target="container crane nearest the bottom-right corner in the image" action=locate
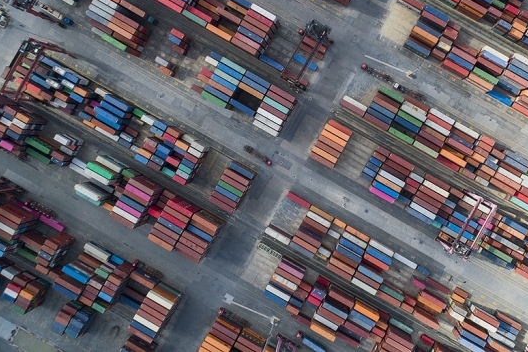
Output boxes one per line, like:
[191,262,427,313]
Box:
[432,188,496,262]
